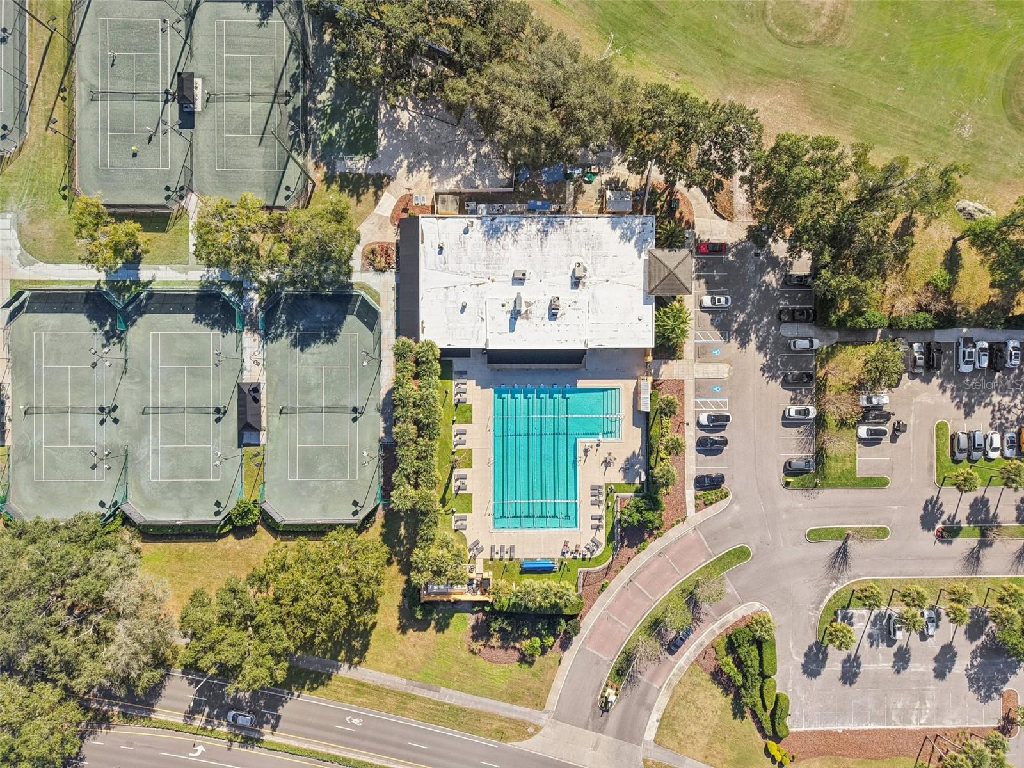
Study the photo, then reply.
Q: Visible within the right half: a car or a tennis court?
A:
car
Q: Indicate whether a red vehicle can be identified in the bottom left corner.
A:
No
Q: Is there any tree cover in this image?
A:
Yes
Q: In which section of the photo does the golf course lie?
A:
top right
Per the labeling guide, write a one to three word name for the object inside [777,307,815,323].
vehicle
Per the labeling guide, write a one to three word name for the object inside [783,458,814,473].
car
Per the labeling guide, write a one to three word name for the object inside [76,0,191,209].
tennis court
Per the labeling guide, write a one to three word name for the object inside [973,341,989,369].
car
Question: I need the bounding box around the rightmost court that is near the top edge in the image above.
[191,0,311,207]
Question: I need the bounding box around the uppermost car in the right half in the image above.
[696,240,726,255]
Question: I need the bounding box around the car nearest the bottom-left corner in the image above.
[227,707,257,727]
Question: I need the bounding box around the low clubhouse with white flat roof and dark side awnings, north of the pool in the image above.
[398,214,656,369]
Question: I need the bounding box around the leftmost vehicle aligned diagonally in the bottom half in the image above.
[664,623,693,658]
